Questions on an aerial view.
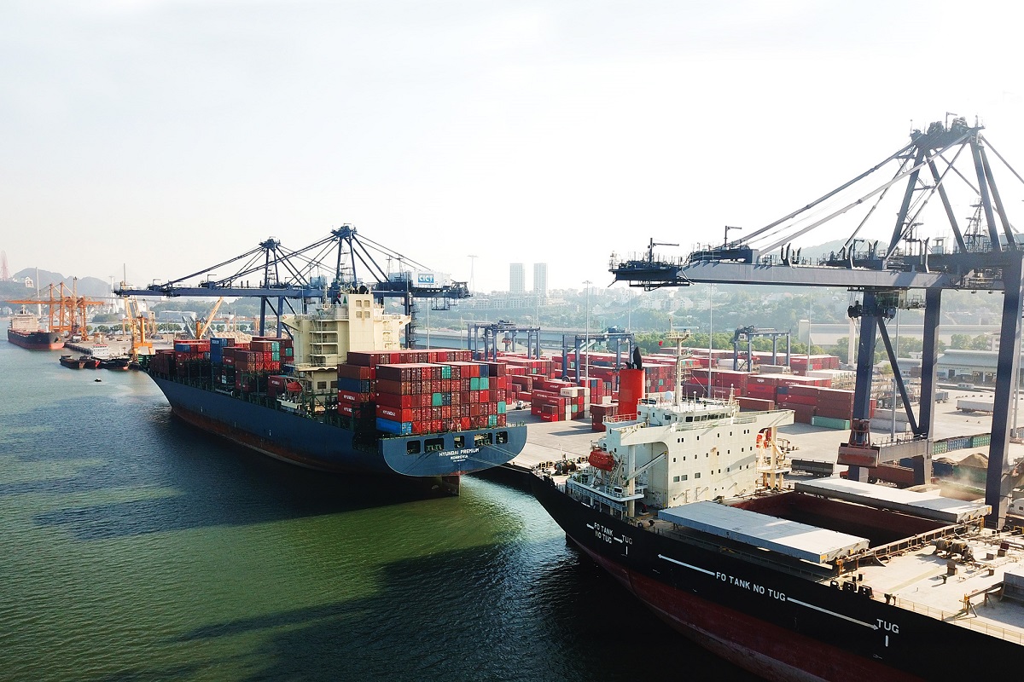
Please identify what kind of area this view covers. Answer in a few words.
port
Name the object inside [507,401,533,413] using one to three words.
vehicle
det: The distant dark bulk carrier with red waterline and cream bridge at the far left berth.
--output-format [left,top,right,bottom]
[0,297,68,350]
